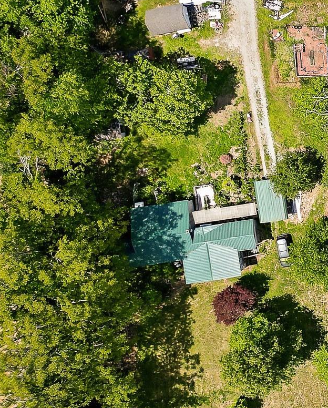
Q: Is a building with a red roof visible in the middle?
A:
No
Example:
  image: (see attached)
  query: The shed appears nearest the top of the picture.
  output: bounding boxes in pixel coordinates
[145,4,194,37]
